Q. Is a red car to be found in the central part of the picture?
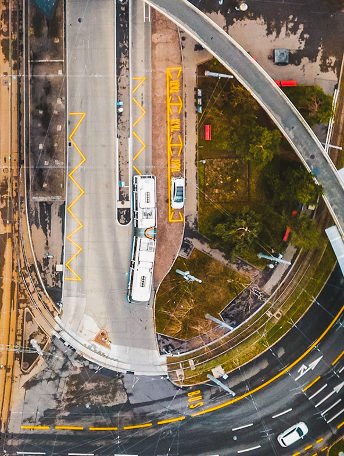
No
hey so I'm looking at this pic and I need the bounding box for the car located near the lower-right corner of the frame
[274,421,309,447]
